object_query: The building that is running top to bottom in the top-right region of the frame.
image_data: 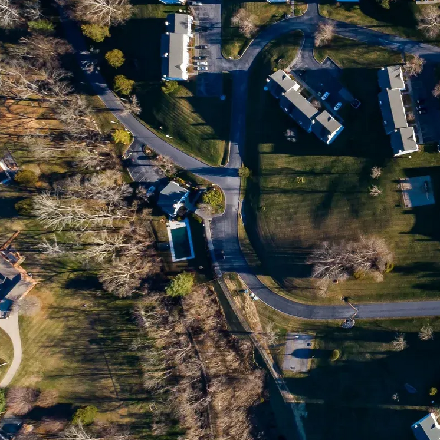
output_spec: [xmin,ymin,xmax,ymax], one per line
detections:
[376,64,420,154]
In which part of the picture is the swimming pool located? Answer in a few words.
center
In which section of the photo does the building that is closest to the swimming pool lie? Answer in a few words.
center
